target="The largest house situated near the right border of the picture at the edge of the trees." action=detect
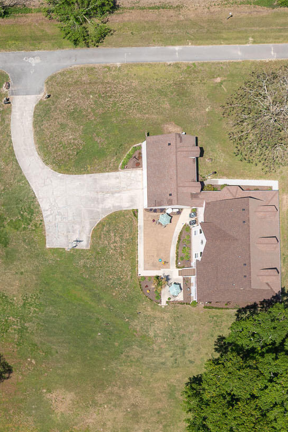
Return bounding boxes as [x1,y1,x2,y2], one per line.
[190,185,280,301]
